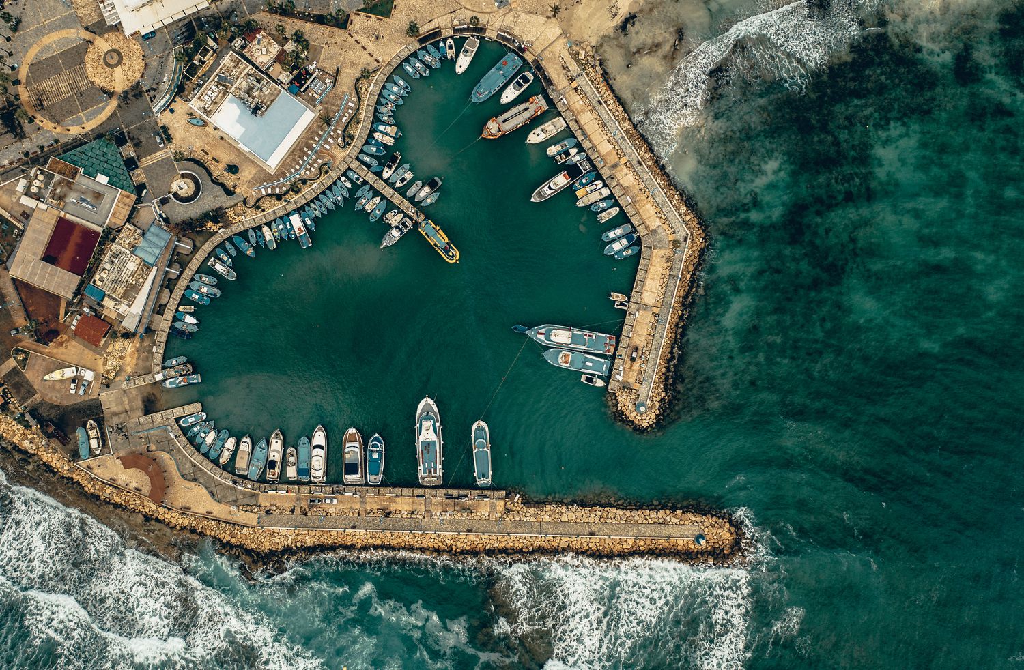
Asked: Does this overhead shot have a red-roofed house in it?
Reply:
Yes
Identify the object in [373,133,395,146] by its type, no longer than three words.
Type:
boat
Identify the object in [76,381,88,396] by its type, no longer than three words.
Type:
vehicle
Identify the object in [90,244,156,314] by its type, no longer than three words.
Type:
building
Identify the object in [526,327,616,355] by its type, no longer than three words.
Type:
ship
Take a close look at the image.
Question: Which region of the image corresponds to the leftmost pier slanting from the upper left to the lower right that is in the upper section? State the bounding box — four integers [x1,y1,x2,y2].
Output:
[346,157,426,224]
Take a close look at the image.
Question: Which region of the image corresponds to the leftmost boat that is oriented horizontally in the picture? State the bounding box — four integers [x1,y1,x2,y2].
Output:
[43,365,79,381]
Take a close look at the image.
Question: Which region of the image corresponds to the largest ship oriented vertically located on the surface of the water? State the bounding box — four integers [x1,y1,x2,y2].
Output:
[415,397,444,486]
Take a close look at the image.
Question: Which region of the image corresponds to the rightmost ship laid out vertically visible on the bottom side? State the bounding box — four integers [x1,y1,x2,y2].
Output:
[471,421,493,487]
